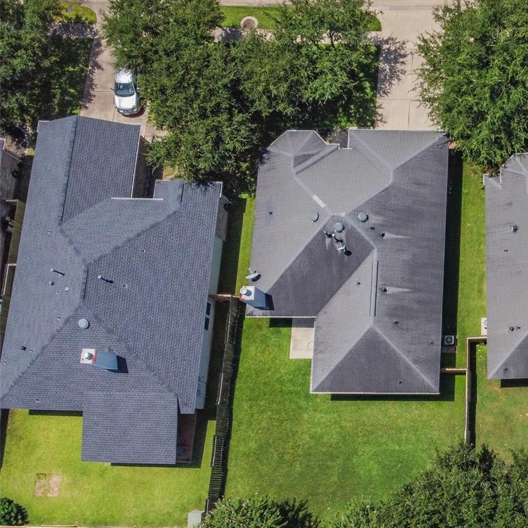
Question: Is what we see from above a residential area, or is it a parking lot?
residential area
